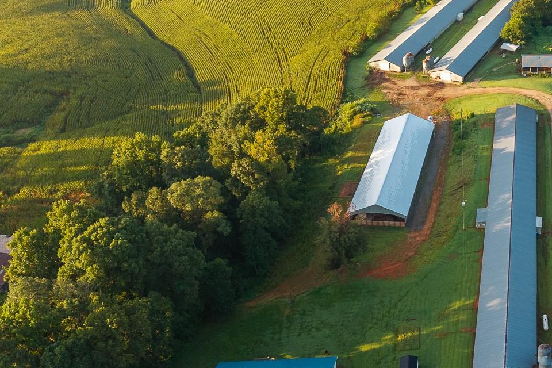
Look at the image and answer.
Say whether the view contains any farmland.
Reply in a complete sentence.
Yes, farmland shows up in the scene.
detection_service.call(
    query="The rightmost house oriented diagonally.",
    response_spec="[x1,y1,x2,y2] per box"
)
[428,0,529,85]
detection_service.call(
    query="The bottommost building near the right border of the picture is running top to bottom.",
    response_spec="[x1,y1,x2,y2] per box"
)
[471,103,542,368]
